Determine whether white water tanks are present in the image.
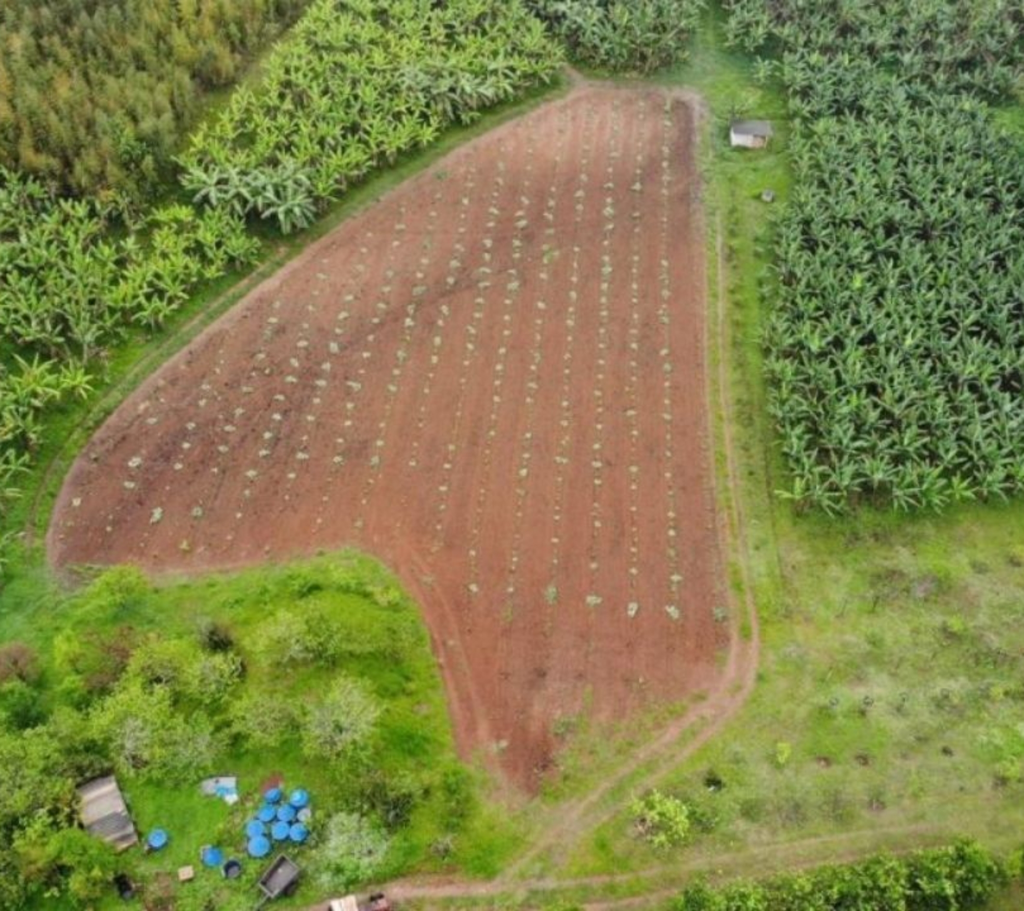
No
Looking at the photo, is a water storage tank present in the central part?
No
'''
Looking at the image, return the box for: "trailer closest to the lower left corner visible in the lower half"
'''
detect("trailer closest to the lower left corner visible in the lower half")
[253,853,300,909]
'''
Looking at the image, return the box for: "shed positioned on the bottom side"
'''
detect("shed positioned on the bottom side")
[84,772,151,856]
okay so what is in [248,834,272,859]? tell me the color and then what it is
blue water tank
